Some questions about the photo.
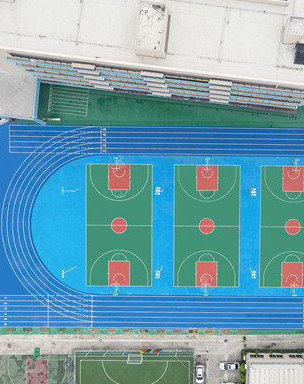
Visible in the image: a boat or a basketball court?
basketball court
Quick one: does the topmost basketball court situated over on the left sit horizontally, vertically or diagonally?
vertically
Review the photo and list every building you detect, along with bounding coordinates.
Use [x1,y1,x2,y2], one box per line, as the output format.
[247,352,304,384]
[0,0,304,117]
